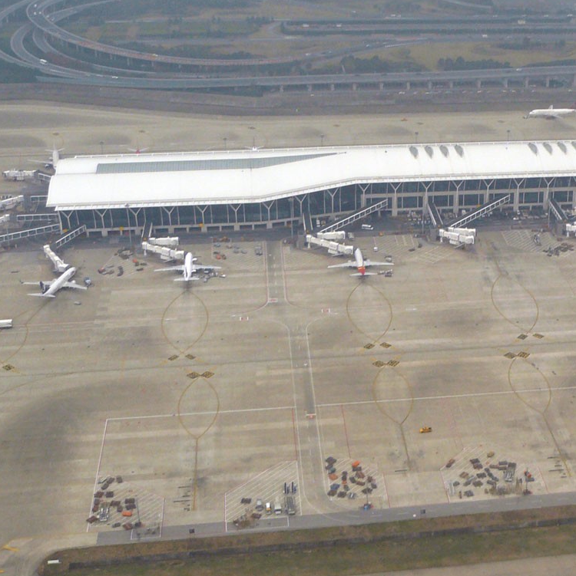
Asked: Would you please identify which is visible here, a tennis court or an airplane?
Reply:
airplane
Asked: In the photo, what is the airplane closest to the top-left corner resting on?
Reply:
apron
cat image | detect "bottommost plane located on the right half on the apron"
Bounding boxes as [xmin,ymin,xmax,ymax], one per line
[327,248,394,277]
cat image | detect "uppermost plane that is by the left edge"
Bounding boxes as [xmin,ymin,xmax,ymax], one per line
[26,138,63,170]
